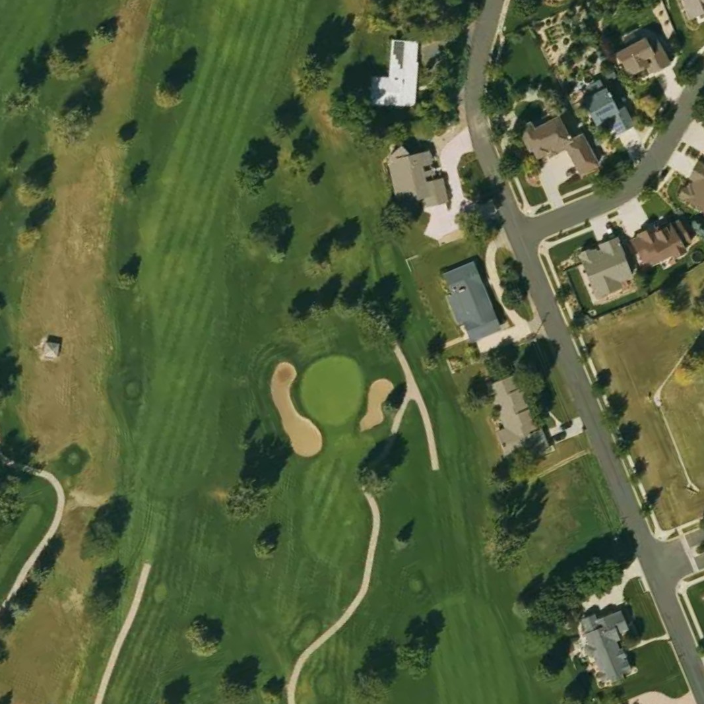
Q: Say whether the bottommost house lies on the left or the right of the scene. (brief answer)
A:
right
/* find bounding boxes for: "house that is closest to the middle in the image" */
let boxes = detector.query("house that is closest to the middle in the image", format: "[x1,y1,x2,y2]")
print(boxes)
[443,262,503,344]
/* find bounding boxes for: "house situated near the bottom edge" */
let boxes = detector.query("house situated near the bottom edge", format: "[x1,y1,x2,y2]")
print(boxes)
[577,607,638,684]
